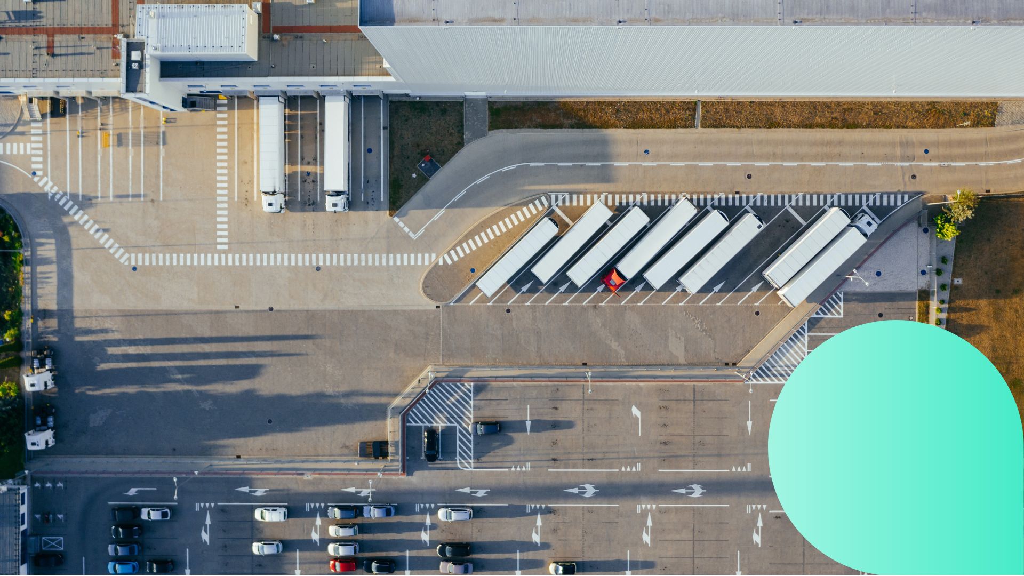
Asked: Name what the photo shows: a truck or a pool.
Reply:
truck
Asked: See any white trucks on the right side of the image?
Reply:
Yes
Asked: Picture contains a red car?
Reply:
Yes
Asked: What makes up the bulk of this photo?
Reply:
paved ground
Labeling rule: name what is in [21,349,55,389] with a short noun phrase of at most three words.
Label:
truck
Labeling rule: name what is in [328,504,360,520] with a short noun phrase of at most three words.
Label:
car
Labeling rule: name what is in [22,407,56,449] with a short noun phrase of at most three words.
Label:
truck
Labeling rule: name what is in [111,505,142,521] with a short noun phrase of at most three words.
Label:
car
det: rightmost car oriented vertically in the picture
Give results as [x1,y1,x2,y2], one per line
[423,428,439,462]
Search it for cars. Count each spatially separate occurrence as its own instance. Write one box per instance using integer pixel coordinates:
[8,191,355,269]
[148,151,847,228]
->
[256,506,289,522]
[148,557,176,574]
[440,559,474,575]
[328,504,360,520]
[109,558,142,575]
[328,540,360,556]
[329,522,359,538]
[142,505,173,521]
[111,505,142,521]
[471,420,501,435]
[437,541,471,558]
[438,506,473,522]
[423,428,439,462]
[330,557,358,573]
[35,551,67,567]
[549,560,576,576]
[253,539,285,555]
[109,541,143,557]
[363,504,396,519]
[364,557,396,573]
[112,523,144,539]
